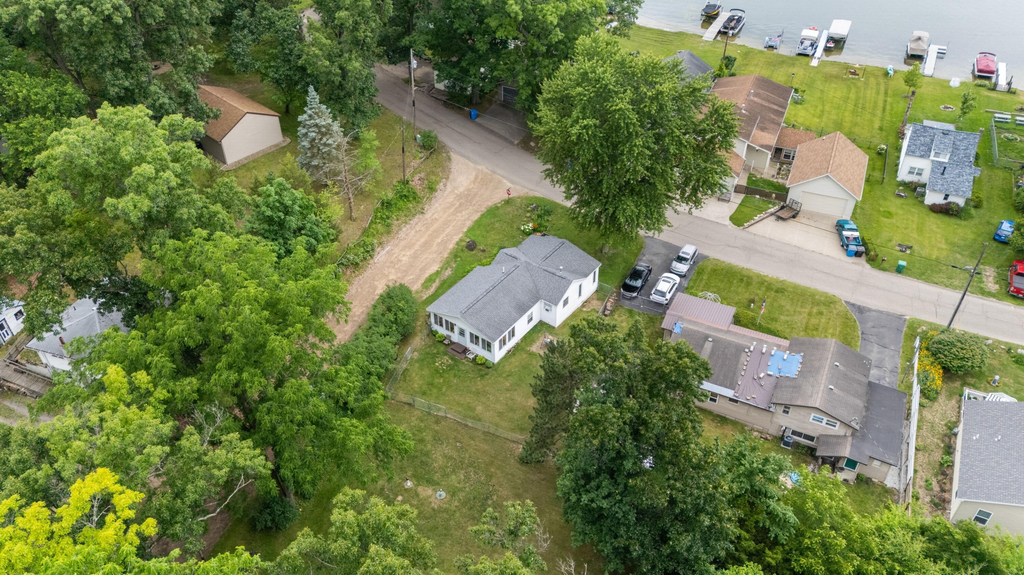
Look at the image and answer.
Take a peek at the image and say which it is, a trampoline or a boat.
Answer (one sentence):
I can see a boat in this picture.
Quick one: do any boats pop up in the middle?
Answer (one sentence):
No, there's no boat to be seen in the middle.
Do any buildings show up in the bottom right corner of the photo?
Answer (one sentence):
Yes, in the bottom right corner of the photo there is a building.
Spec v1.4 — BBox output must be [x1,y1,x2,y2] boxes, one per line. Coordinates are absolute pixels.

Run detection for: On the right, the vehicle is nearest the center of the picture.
[621,262,653,296]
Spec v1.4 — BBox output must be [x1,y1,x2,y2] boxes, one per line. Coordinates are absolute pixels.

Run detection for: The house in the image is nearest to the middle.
[424,234,604,363]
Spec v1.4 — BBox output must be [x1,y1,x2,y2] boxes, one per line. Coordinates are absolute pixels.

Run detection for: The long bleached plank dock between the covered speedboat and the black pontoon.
[702,12,731,40]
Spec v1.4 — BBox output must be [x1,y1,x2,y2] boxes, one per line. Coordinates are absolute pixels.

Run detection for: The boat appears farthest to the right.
[976,45,1000,77]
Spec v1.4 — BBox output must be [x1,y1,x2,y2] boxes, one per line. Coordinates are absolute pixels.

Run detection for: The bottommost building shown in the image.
[940,399,1024,542]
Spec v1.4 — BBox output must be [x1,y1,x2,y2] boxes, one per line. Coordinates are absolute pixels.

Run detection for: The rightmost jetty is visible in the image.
[994,63,1014,96]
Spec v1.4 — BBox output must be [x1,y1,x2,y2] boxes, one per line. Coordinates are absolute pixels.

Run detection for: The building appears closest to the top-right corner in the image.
[897,122,990,207]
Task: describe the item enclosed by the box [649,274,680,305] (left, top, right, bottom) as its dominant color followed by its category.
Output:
white car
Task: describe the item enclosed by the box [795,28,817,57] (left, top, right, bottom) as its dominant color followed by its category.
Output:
white boat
